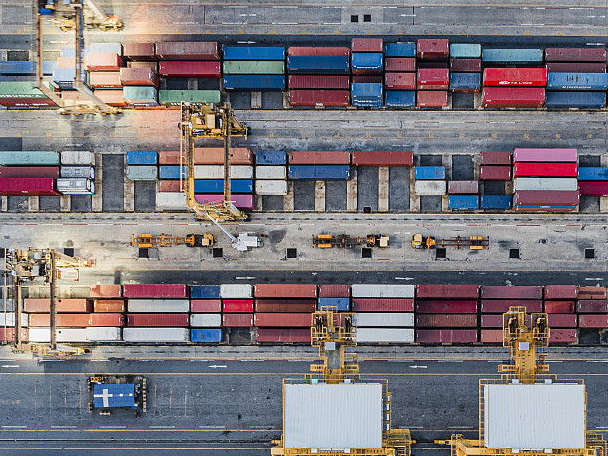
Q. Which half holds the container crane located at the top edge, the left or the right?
left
